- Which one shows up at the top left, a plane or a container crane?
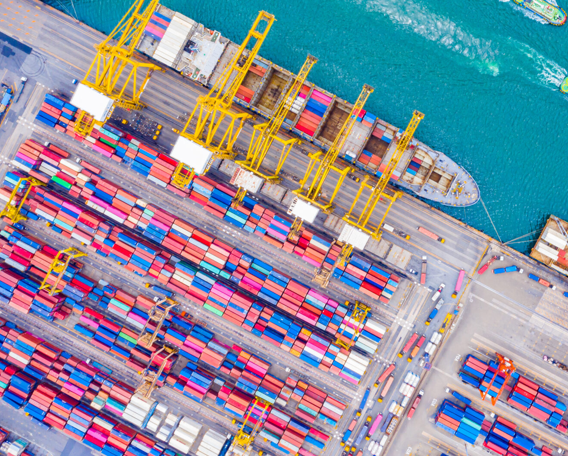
container crane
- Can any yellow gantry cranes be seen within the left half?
Yes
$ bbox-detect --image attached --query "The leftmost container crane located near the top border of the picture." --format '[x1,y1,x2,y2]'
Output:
[67,0,169,137]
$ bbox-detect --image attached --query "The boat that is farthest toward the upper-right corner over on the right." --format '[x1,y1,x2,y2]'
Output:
[511,0,567,27]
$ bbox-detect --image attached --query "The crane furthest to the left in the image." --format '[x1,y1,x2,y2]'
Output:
[0,175,53,222]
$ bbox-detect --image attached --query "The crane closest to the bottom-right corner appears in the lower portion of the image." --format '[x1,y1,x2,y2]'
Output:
[472,347,514,403]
